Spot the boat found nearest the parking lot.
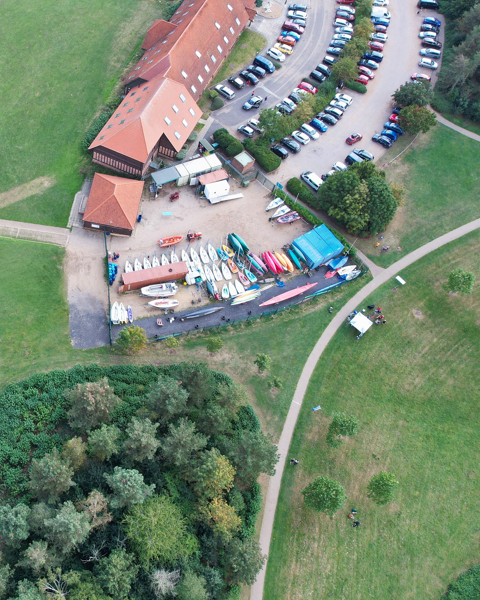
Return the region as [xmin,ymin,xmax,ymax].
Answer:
[264,183,285,211]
